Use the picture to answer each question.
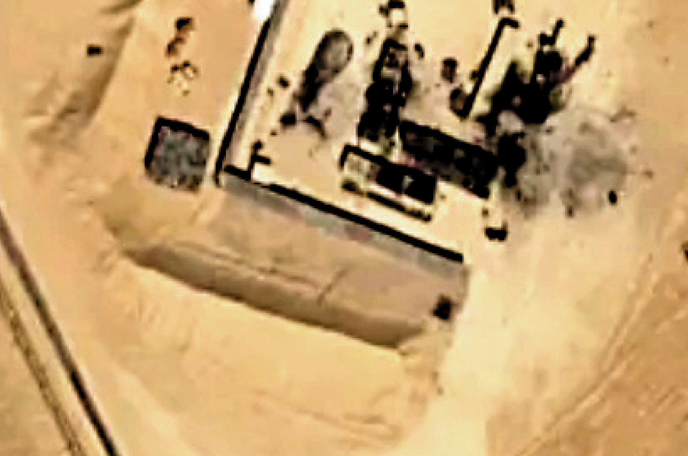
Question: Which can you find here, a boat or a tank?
tank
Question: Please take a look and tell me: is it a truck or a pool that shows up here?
truck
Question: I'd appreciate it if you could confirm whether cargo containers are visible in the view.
Yes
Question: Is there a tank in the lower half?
No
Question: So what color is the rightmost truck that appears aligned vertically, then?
black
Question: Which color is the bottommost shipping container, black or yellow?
black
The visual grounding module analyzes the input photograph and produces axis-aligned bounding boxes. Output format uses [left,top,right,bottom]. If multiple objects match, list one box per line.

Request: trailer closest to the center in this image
[342,159,441,220]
